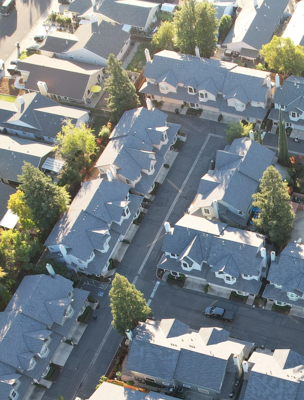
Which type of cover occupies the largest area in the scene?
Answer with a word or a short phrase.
buildings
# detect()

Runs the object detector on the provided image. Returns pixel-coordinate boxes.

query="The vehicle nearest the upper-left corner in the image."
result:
[0,0,17,14]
